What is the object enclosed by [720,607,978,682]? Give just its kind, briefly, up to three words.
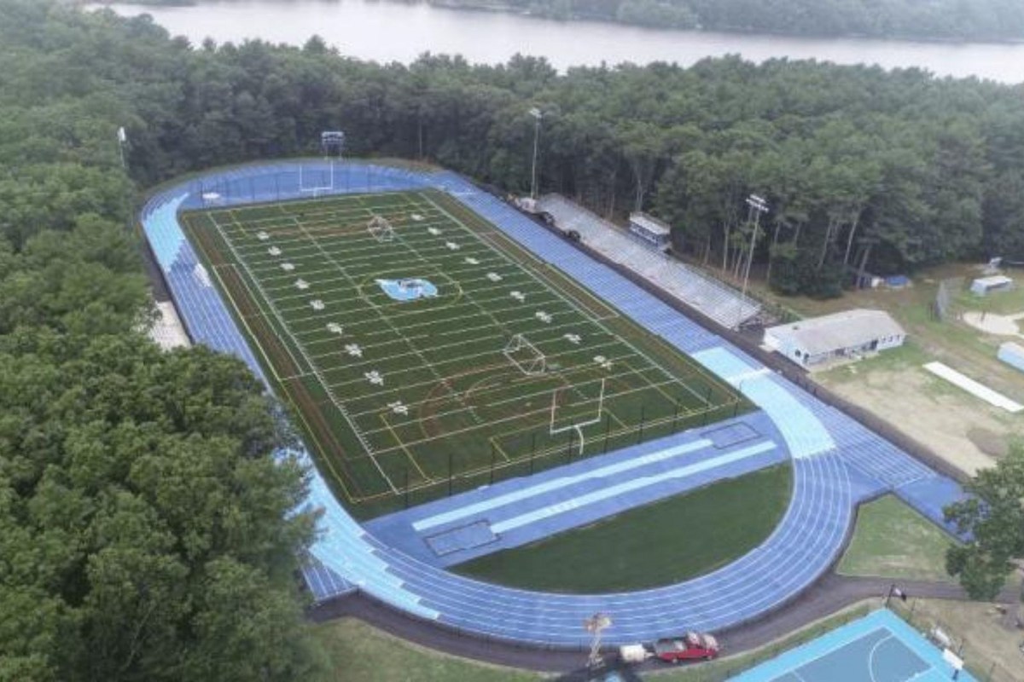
basketball court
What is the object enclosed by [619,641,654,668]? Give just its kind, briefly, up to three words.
trailer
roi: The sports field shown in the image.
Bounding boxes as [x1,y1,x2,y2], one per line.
[173,184,763,524]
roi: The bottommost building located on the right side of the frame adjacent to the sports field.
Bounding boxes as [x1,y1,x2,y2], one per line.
[764,309,913,370]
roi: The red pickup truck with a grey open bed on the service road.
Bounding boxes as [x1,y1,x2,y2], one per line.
[655,635,722,666]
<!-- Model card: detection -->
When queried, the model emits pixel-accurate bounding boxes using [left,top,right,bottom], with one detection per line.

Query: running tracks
[138,160,998,645]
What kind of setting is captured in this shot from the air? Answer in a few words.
sports ground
